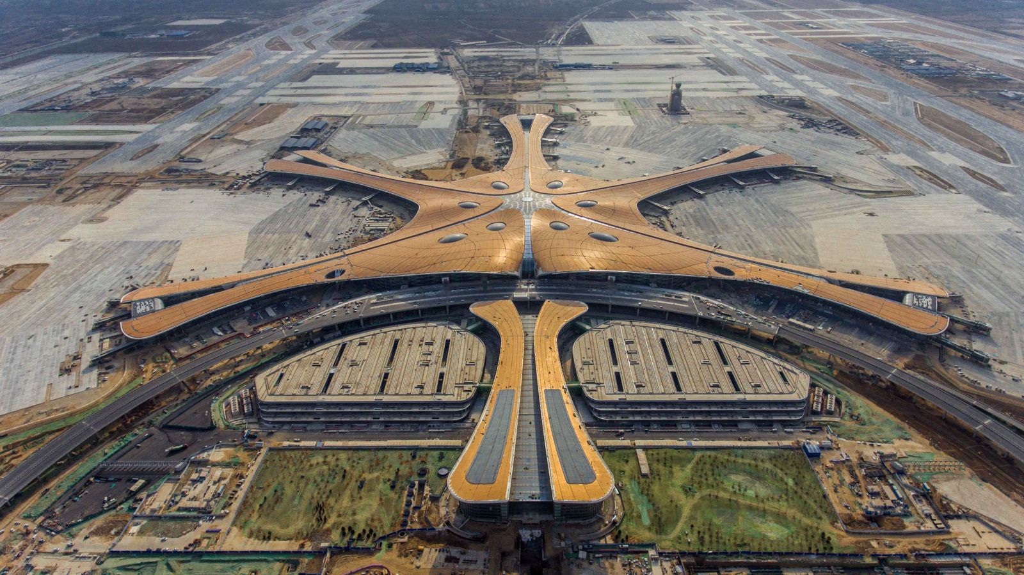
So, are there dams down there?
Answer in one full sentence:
No, there appears to be no dam in this shot.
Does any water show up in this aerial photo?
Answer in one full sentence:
No, water can't be seen anywhere here.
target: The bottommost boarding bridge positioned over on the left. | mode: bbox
[81,339,135,364]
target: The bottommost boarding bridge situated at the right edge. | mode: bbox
[933,334,1000,364]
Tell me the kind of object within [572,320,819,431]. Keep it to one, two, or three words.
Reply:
building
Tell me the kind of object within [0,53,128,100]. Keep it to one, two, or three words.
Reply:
runway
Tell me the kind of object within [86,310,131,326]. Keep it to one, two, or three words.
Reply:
jet bridge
